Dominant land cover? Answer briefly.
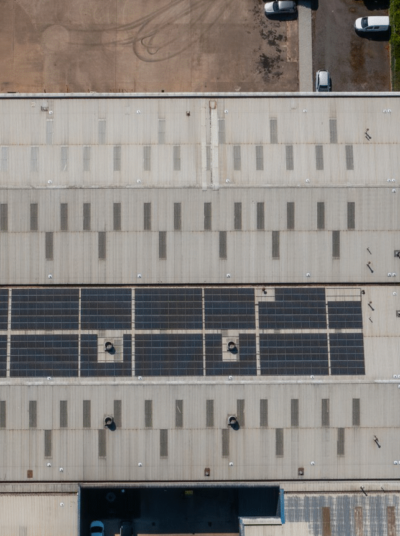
buildings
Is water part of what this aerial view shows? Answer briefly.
No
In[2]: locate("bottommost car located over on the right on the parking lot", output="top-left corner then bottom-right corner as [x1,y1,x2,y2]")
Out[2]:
[315,70,330,91]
